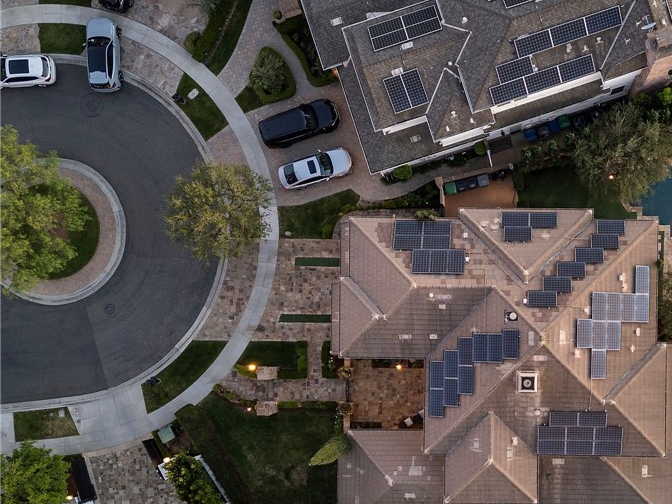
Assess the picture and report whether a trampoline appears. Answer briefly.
No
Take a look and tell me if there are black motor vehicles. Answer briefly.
Yes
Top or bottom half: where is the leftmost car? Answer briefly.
top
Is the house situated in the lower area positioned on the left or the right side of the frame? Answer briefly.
right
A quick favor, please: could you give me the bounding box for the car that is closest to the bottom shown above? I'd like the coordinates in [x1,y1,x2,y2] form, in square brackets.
[275,145,354,189]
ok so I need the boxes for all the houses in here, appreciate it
[302,0,672,176]
[330,208,672,504]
